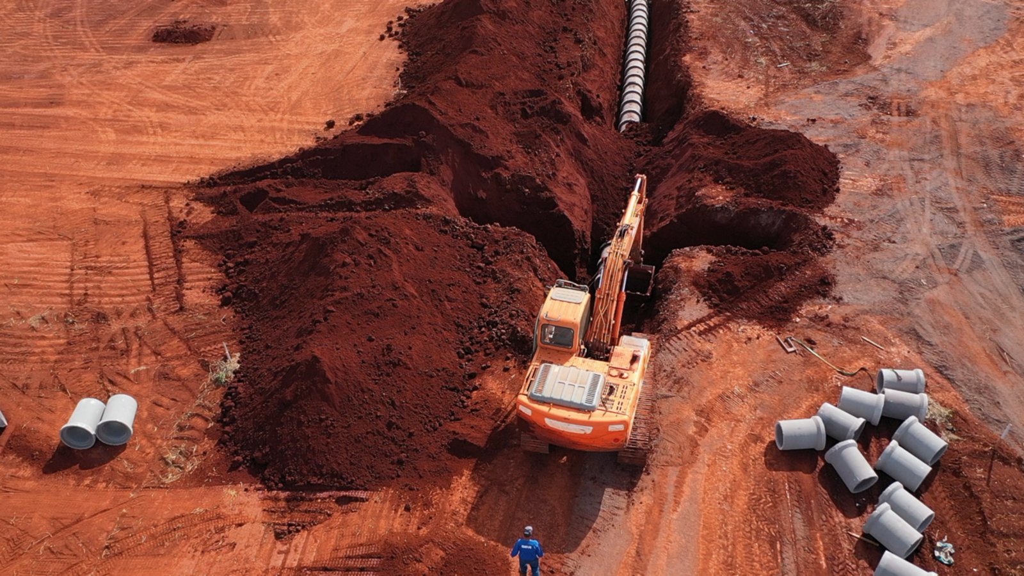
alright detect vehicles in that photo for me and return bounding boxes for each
[516,169,660,466]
